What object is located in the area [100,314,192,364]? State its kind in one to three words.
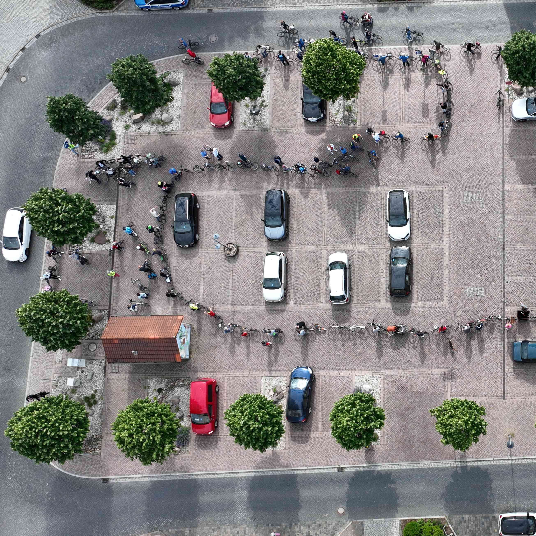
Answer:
shed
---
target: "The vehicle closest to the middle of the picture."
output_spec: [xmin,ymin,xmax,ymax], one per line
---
[259,253,288,302]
